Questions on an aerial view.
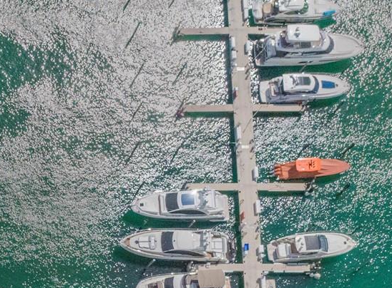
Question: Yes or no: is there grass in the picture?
No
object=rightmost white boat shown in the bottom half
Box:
[255,234,362,266]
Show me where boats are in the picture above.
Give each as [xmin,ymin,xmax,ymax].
[243,0,343,29]
[271,160,351,183]
[250,75,355,106]
[255,234,362,266]
[128,193,241,225]
[117,230,245,265]
[247,29,370,71]
[137,275,242,288]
